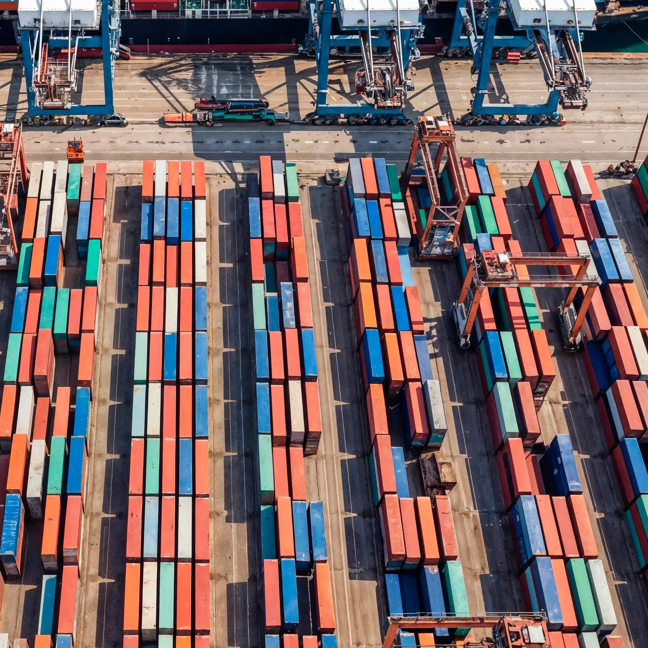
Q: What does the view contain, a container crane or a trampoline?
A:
container crane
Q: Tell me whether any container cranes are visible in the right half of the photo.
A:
Yes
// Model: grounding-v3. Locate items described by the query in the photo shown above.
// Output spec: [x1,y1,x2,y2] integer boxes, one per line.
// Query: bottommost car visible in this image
[325,171,338,186]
